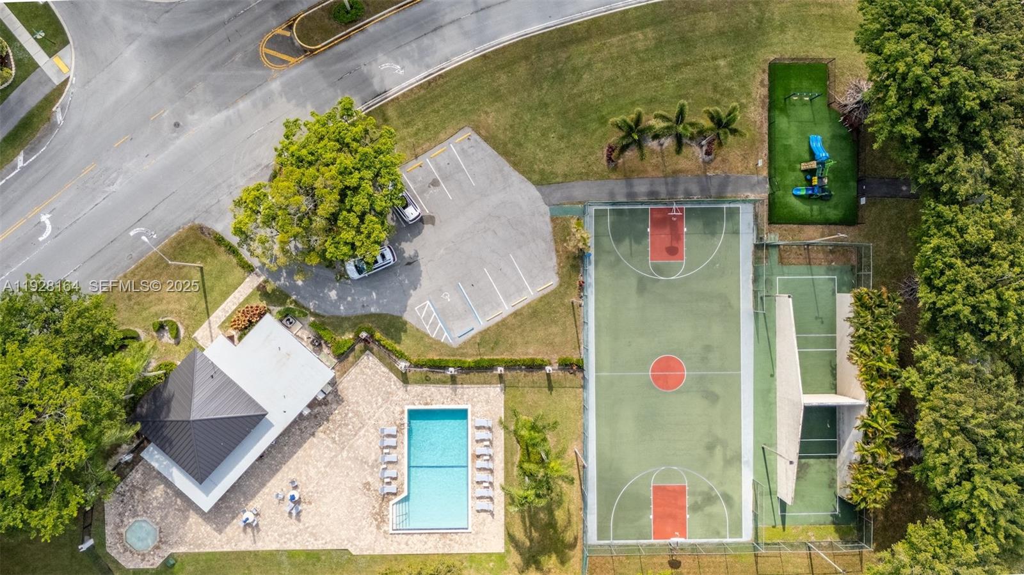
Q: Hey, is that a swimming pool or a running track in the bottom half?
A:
swimming pool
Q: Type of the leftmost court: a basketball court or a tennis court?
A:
basketball court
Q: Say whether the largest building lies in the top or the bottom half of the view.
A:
bottom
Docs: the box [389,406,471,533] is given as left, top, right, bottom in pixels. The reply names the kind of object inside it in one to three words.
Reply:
swimming pool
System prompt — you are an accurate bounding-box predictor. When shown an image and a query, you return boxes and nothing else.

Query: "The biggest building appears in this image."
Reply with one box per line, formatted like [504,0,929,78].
[130,313,335,511]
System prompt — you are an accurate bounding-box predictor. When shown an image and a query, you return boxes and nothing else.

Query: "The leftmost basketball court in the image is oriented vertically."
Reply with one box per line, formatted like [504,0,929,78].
[587,202,754,545]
